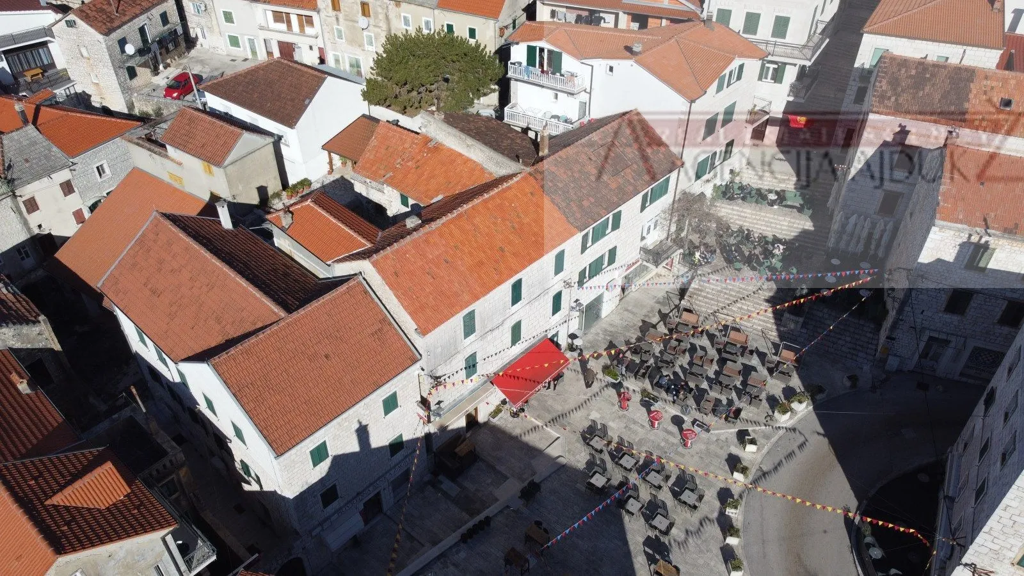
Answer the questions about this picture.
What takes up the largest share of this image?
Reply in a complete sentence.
What you mostly see from above here is buildings.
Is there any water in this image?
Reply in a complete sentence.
No, there is no water in the image.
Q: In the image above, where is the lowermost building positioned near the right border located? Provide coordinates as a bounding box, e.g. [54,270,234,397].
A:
[913,337,1024,576]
